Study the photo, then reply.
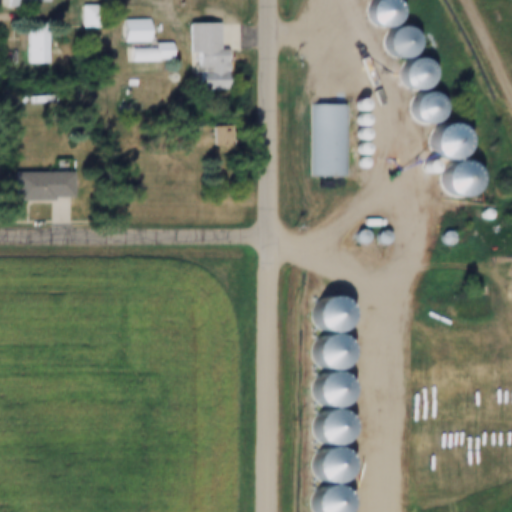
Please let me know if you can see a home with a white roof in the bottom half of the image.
No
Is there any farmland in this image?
Yes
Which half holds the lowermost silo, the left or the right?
right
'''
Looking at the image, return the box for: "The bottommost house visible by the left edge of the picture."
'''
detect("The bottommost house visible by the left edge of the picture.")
[20,172,78,200]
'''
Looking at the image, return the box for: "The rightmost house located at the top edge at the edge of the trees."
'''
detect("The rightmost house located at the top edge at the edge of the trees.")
[190,22,233,90]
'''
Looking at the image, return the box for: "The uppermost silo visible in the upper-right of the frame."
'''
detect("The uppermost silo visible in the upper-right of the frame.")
[365,0,410,31]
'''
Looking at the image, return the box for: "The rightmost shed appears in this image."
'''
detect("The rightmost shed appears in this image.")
[307,103,349,177]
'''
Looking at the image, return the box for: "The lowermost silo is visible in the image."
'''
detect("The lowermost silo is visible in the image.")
[312,482,360,512]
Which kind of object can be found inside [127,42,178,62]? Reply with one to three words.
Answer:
house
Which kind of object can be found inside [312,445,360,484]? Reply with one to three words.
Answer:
silo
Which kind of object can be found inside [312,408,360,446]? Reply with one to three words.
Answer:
silo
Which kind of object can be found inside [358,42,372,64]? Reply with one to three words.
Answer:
vehicle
